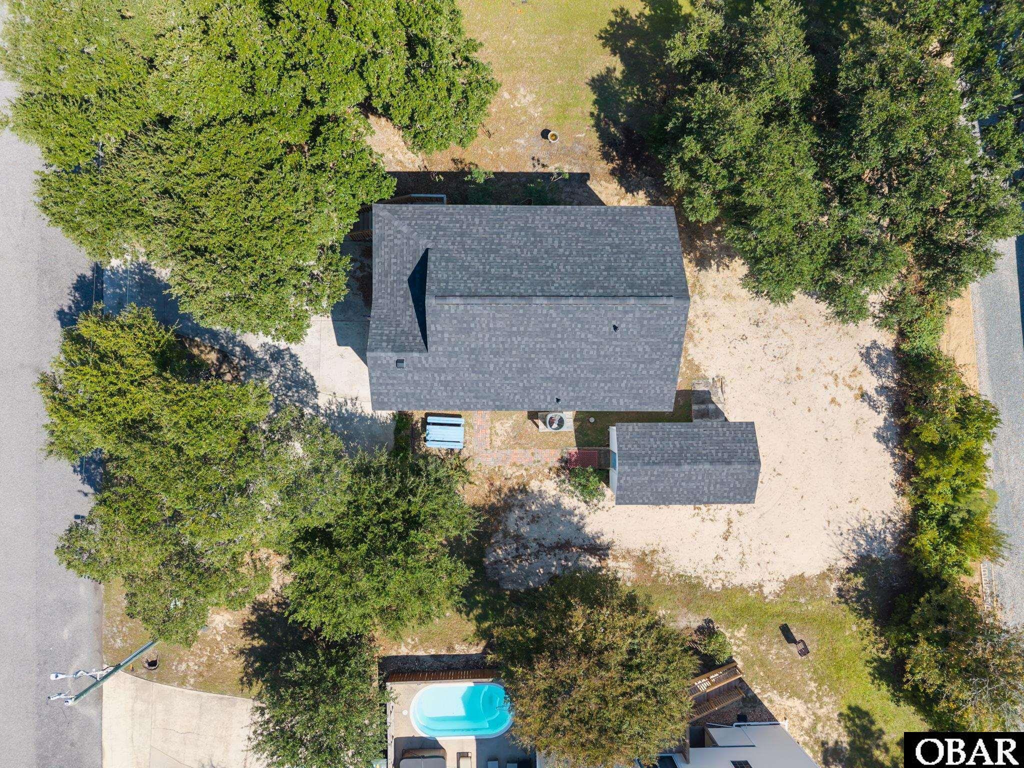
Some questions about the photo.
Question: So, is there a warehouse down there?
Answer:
No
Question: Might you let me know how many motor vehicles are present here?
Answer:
none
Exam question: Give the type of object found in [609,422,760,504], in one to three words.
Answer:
shed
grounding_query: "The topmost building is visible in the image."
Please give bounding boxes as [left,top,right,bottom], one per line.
[366,204,690,412]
